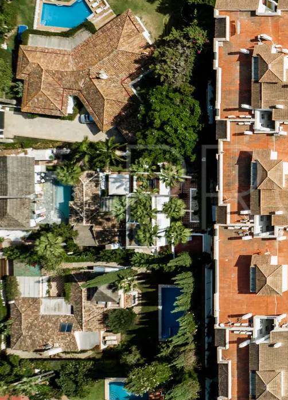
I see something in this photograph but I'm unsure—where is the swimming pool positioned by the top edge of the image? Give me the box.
[41,0,92,27]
